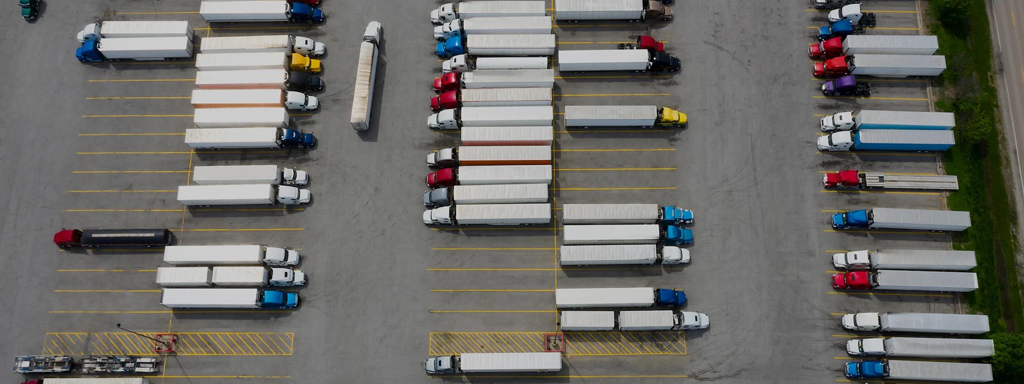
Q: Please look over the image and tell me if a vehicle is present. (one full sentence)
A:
Yes, a vehicle can be made out from above.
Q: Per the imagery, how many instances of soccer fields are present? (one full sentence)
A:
Not a single soccer field can be seen.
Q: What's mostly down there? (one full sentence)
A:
The scene is dominated by paved ground.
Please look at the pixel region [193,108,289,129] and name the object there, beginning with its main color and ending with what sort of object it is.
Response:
white trailer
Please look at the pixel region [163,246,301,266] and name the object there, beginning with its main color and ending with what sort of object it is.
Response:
white vehicle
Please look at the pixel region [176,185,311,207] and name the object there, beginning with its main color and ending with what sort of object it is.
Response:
white truck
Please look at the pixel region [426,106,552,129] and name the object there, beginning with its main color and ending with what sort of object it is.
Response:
white truck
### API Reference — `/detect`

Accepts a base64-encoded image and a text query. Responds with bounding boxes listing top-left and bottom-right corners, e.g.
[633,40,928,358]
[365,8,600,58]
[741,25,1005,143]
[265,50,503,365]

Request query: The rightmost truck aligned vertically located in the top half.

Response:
[351,21,381,132]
